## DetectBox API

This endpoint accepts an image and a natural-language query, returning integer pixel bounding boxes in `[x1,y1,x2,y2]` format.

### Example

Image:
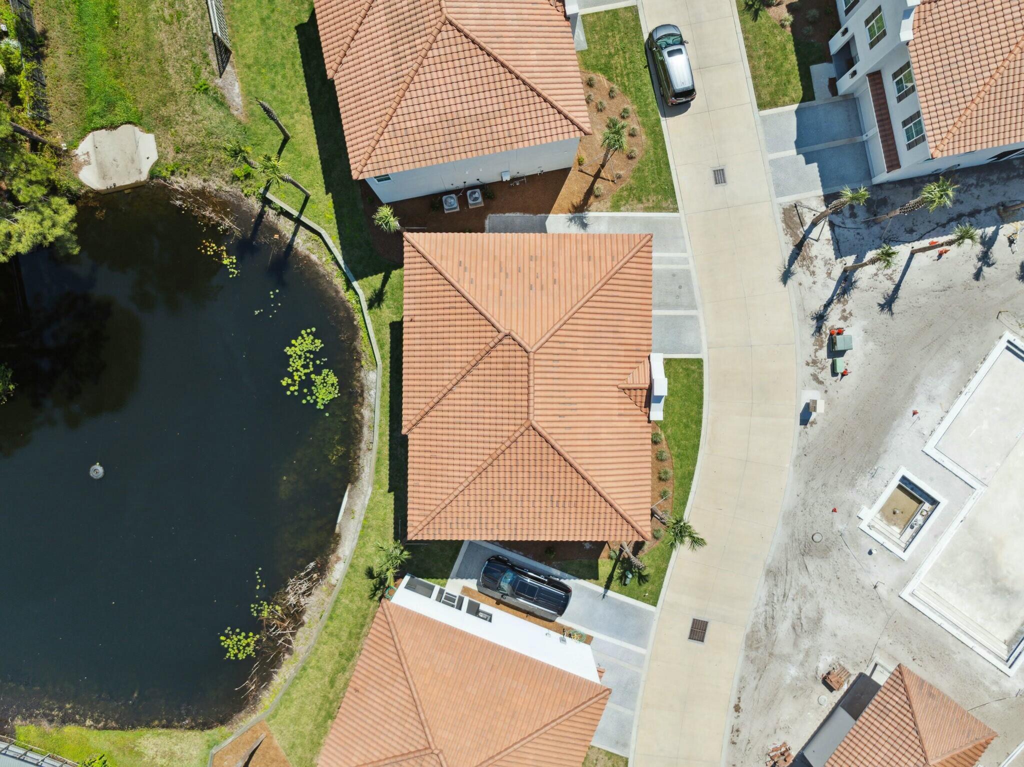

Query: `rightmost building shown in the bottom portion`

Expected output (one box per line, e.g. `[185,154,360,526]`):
[797,655,1000,767]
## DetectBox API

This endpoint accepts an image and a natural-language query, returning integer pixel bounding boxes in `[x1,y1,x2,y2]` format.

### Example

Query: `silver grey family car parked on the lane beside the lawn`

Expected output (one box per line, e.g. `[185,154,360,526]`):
[649,21,701,107]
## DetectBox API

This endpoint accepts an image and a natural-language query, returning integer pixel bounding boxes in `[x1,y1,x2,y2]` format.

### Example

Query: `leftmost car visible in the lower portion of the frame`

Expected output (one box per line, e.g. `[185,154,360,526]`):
[475,553,572,621]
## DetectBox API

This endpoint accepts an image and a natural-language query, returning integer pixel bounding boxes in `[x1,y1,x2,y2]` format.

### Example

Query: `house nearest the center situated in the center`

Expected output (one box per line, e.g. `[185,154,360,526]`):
[400,230,673,543]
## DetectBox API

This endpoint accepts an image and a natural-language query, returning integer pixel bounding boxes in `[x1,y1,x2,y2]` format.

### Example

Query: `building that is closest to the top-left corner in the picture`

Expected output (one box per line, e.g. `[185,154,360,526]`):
[310,0,594,203]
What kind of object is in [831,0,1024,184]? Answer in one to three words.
house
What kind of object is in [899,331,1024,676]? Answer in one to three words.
swimming pool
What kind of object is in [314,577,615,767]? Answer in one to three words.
house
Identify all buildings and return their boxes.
[400,230,673,543]
[310,0,594,203]
[0,735,81,767]
[831,0,1024,184]
[797,655,1000,767]
[314,577,615,767]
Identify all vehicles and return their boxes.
[649,21,701,107]
[475,553,572,621]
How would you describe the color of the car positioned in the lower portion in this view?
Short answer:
black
